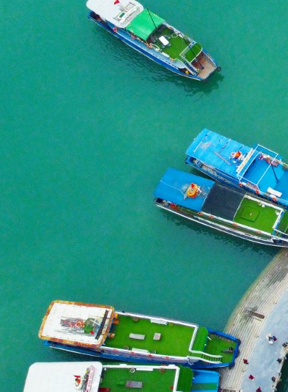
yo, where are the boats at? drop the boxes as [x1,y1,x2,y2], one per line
[85,0,218,83]
[183,131,288,211]
[151,167,288,250]
[35,304,241,369]
[22,362,223,392]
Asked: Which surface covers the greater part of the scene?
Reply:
water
